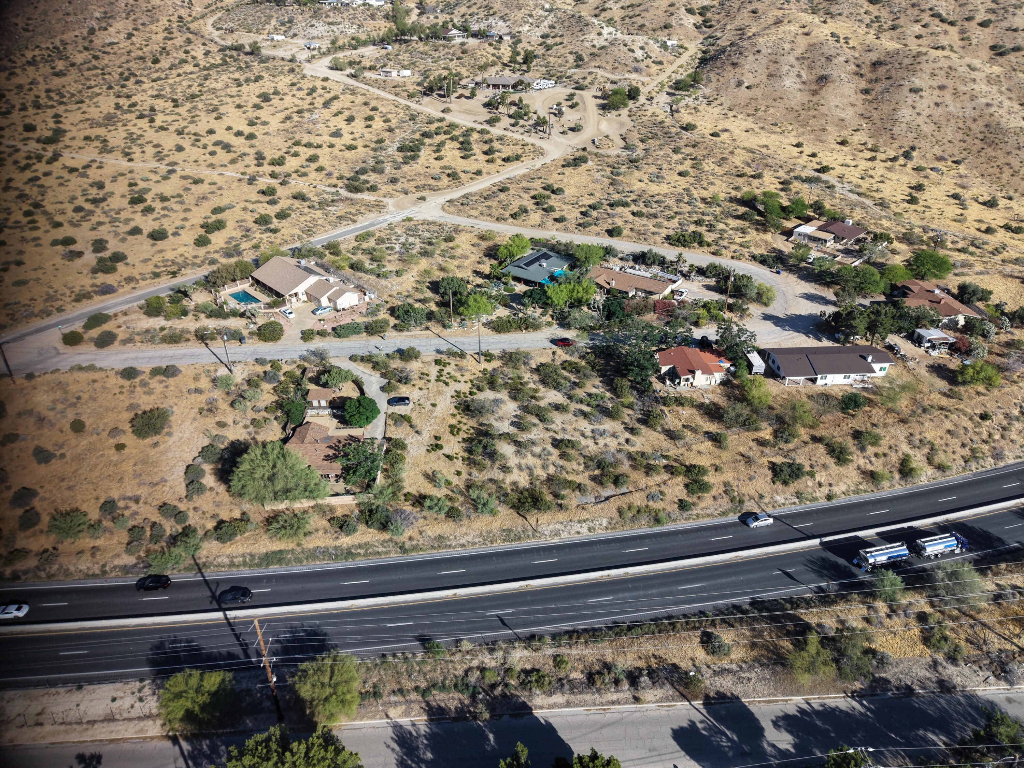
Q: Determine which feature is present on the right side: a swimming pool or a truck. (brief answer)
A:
truck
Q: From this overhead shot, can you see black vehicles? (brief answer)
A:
Yes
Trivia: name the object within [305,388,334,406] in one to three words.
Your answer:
shed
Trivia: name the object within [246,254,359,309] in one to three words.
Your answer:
house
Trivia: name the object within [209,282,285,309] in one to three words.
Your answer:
swimming pool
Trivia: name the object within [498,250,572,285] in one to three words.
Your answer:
building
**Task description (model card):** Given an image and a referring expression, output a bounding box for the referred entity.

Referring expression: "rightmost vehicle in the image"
[908,526,971,558]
